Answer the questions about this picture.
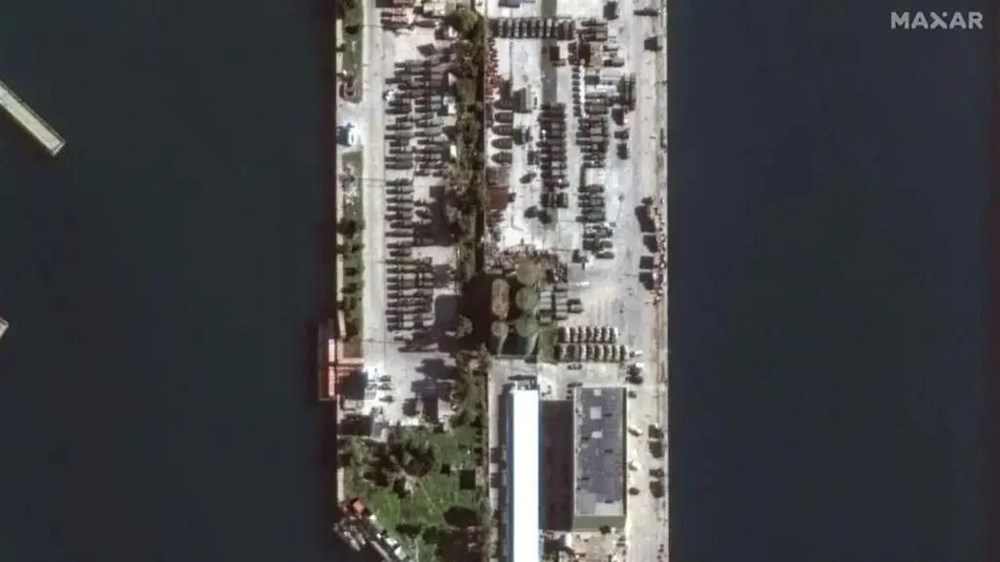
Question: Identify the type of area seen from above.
port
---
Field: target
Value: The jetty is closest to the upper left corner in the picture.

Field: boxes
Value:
[0,82,67,157]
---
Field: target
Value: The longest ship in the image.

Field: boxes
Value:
[318,323,335,405]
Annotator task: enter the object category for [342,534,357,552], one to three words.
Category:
boat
